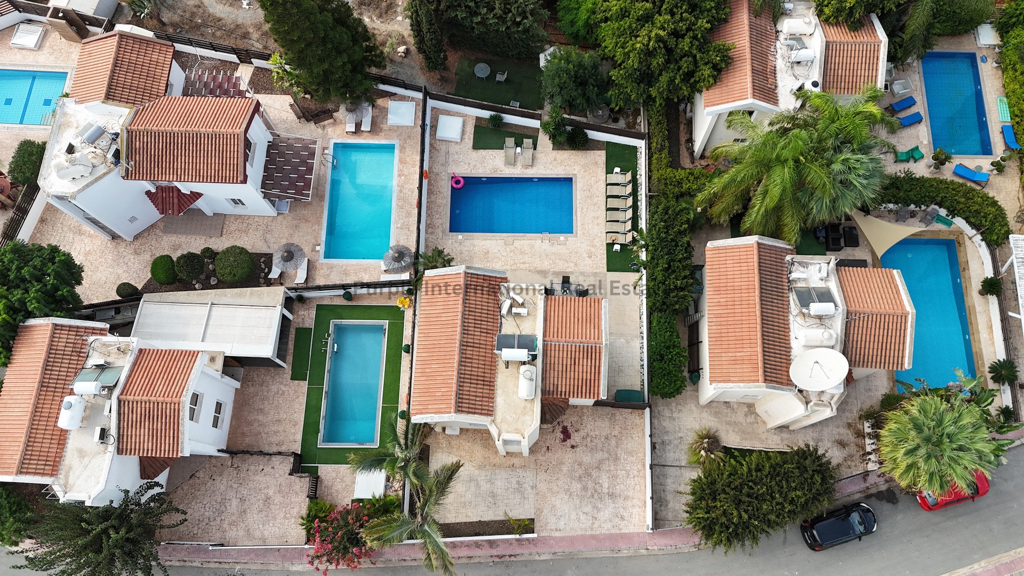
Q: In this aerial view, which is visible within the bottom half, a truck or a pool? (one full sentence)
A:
The feature located within the bottom half is a pool.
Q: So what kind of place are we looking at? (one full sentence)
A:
What you see here is a residential area.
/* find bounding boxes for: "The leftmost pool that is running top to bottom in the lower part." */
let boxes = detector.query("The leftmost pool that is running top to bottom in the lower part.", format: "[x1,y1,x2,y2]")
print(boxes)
[320,321,386,446]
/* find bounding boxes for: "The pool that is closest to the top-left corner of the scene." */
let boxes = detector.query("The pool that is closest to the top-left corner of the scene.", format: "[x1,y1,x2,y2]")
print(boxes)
[0,66,73,129]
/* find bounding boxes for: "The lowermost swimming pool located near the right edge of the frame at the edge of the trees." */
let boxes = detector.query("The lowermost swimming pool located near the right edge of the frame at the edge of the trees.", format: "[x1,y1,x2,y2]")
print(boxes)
[869,232,991,404]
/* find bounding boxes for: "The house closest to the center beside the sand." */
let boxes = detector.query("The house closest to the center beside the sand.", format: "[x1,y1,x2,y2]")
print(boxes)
[409,262,614,457]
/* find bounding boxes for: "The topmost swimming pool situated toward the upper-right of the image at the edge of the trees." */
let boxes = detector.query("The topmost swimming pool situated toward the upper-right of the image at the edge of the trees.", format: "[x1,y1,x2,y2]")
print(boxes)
[919,48,1000,159]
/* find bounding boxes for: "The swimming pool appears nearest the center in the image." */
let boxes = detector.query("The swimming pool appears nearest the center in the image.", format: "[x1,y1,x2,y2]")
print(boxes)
[445,173,576,243]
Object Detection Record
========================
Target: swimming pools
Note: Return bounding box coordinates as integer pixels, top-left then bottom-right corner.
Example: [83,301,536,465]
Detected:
[919,48,1000,159]
[0,66,73,129]
[869,232,991,404]
[320,321,386,446]
[445,173,576,243]
[315,139,402,263]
